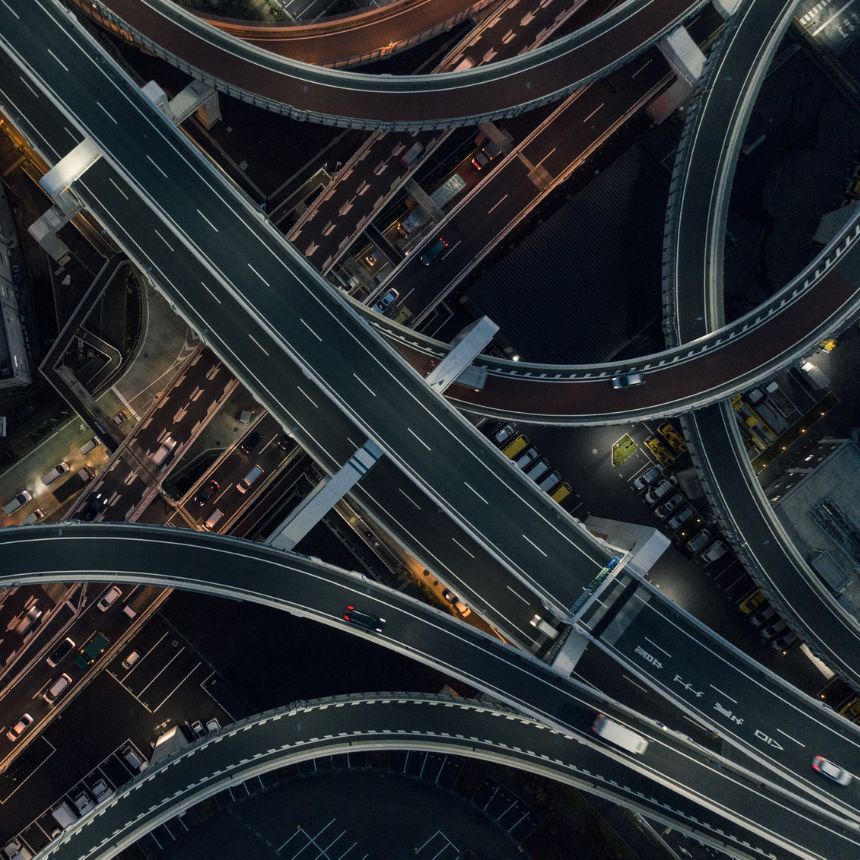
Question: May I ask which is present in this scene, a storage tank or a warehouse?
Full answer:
Looking from above, you can make out a warehouse.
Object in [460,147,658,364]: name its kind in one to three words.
warehouse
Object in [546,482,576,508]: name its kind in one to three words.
vehicle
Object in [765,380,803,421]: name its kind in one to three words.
truck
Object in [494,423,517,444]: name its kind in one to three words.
car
